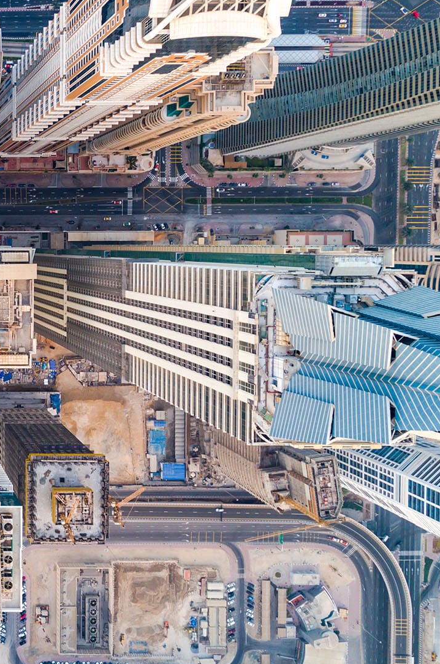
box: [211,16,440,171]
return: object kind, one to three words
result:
building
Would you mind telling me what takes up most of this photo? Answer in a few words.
buildings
